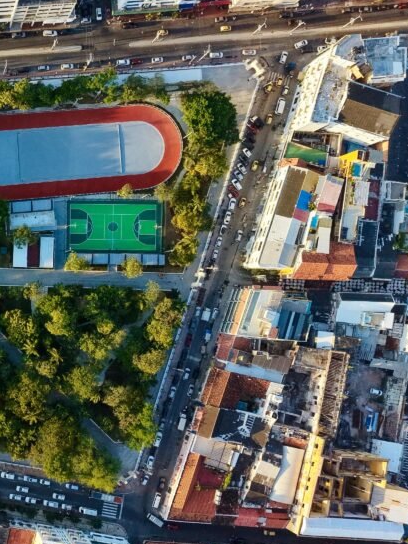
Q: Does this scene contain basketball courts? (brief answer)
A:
Yes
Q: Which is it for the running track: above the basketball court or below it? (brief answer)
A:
above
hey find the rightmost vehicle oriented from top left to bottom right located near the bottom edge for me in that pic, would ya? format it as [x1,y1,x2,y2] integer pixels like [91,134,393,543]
[146,513,162,526]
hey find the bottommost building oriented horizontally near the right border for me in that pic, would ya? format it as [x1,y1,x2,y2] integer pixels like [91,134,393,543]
[299,514,404,542]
